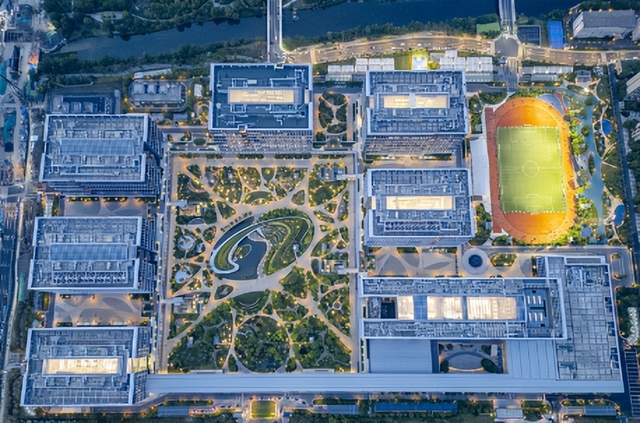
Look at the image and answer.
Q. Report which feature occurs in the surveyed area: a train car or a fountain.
fountain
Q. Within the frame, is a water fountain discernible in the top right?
No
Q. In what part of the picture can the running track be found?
right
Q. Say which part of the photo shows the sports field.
right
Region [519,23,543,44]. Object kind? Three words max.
sports court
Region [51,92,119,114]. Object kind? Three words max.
building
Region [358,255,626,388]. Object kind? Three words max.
building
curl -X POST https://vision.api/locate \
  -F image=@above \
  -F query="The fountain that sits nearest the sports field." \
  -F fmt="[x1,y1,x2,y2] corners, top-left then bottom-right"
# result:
[461,247,489,275]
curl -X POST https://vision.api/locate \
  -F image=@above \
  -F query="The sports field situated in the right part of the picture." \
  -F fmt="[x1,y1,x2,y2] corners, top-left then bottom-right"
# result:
[485,97,579,244]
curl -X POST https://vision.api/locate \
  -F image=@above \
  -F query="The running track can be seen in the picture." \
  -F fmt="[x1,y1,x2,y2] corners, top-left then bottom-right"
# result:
[485,97,579,244]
